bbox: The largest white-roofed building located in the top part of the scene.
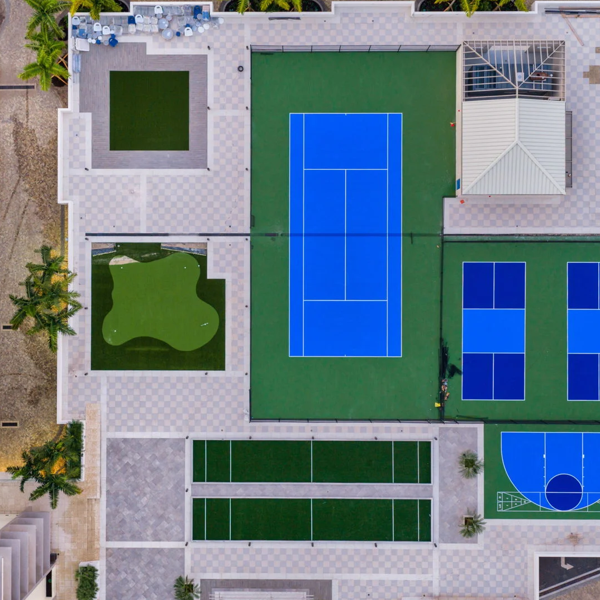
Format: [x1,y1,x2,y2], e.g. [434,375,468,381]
[457,39,572,198]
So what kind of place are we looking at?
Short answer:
sports ground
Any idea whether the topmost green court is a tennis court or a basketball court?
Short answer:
tennis court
